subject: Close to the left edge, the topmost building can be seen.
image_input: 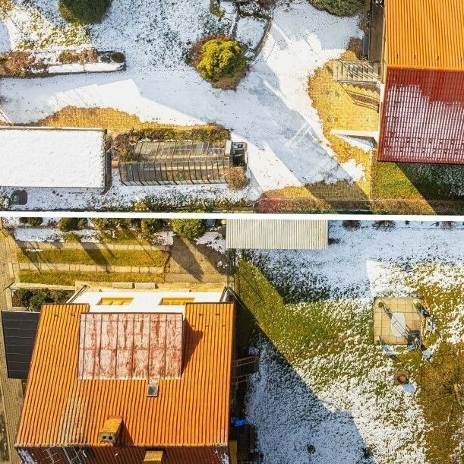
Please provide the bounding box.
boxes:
[0,126,117,189]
